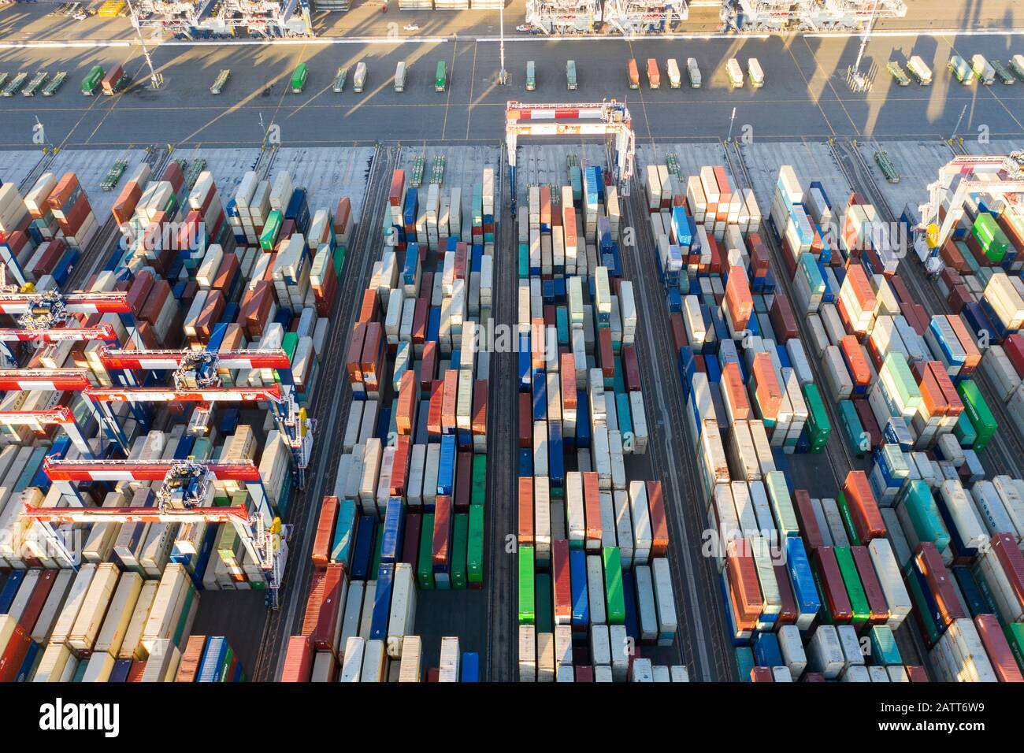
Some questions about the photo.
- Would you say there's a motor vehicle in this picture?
Yes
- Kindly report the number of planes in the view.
none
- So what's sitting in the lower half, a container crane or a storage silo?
container crane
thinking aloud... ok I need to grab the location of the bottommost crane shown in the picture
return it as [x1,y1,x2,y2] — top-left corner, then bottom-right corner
[31,451,302,618]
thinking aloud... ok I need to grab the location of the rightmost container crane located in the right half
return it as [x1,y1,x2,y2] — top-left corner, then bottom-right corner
[895,146,1024,271]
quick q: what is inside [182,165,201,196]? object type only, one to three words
vehicle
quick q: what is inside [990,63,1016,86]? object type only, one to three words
vehicle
